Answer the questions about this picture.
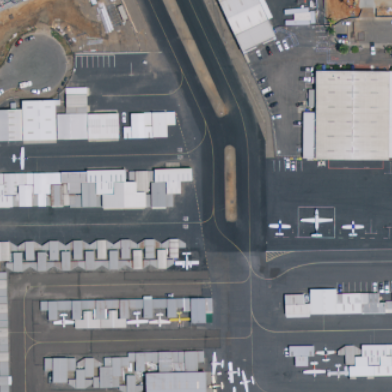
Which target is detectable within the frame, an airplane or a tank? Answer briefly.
airplane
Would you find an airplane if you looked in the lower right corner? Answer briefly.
Yes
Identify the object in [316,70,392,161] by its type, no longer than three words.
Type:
hangar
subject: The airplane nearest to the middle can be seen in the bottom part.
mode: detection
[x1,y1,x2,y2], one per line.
[175,252,200,270]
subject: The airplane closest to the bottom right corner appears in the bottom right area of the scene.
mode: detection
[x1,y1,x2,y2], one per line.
[328,363,349,378]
